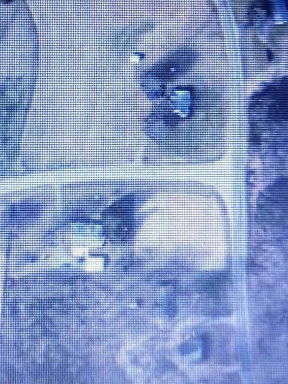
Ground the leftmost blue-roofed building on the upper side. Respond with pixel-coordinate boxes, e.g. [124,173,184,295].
[173,90,192,116]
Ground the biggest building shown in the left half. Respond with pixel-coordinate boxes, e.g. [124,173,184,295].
[71,223,103,248]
